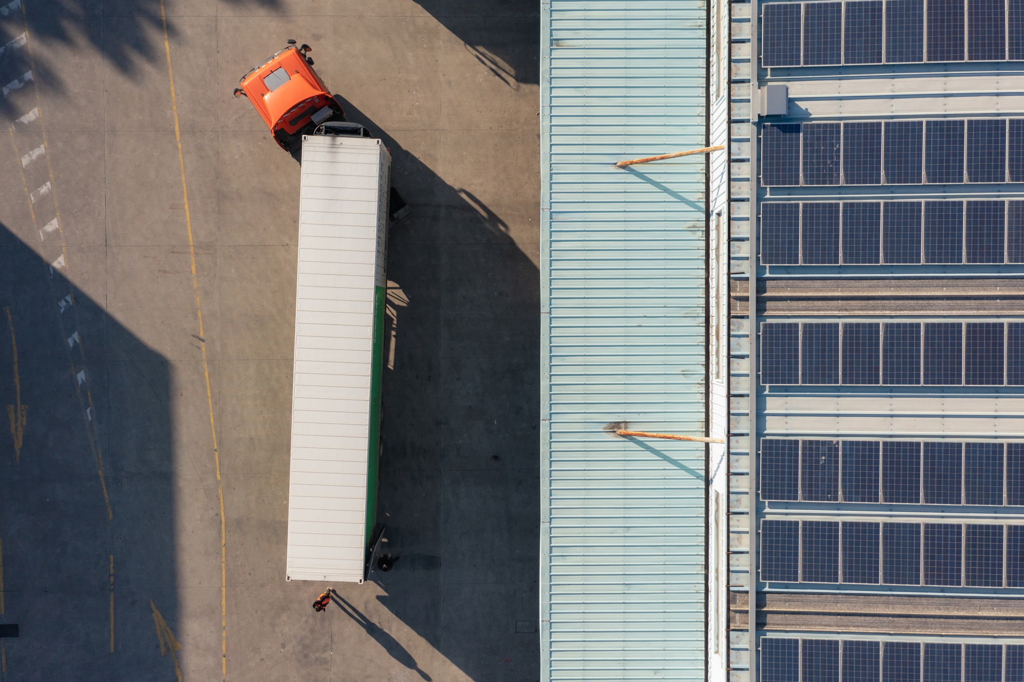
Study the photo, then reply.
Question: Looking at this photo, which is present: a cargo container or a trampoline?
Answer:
cargo container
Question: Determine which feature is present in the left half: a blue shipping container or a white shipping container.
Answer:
white shipping container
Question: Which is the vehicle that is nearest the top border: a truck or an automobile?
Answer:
truck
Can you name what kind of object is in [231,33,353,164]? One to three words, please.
truck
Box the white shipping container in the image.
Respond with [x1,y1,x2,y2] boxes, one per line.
[285,136,392,584]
